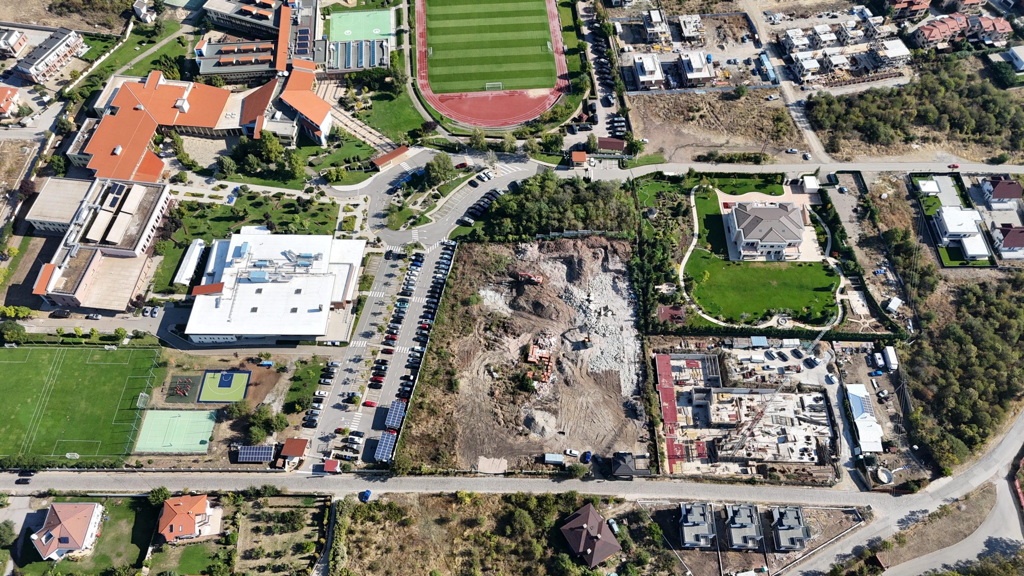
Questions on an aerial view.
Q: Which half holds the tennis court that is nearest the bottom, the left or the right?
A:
left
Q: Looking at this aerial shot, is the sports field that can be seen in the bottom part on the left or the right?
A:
left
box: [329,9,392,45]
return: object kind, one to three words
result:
sports court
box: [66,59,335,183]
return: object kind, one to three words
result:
building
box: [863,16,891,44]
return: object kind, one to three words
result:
house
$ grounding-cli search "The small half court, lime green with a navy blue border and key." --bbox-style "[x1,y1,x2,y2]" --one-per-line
[196,370,251,403]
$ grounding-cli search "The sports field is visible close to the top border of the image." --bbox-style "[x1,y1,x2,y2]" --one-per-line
[426,0,559,95]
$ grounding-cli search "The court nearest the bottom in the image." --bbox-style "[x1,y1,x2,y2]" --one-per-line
[135,410,216,452]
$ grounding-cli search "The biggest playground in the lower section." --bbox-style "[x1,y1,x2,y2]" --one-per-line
[165,376,201,403]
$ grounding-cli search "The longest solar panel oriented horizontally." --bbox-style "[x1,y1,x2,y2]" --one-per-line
[239,446,274,462]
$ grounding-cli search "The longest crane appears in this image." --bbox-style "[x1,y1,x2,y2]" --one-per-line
[728,314,839,463]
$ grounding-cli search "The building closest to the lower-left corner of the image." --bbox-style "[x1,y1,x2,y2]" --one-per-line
[26,503,103,562]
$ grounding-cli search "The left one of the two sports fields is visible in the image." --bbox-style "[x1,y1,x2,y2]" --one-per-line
[0,345,162,458]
